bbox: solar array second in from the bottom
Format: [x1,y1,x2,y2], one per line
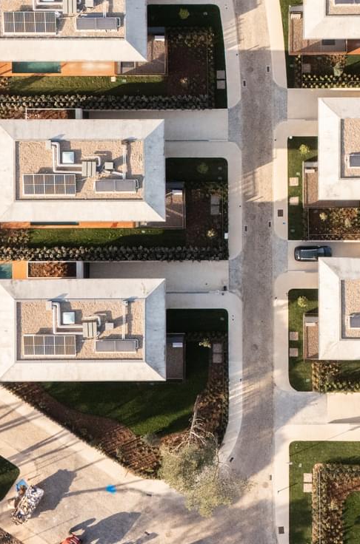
[22,174,75,198]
